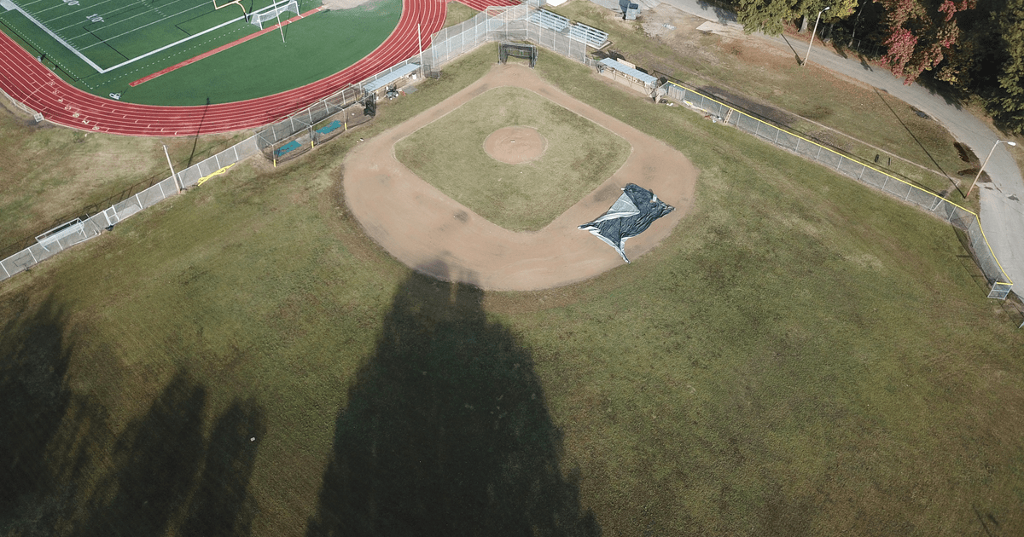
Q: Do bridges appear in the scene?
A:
No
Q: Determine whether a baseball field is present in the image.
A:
Yes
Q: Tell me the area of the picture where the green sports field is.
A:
top left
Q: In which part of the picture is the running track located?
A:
top left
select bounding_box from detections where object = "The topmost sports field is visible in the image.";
[0,0,402,105]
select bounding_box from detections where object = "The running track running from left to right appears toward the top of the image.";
[0,0,529,138]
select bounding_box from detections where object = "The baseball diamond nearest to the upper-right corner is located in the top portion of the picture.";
[341,62,698,292]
